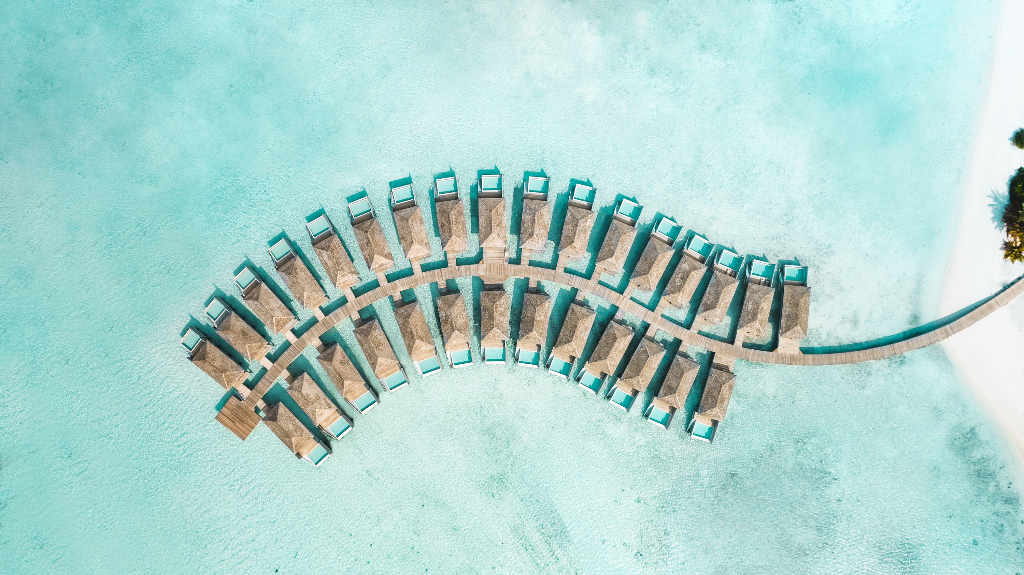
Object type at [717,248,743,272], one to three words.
swimming pool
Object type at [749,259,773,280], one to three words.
swimming pool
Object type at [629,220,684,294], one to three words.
house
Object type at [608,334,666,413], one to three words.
house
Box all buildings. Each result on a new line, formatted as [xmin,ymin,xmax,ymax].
[777,264,810,340]
[514,288,551,369]
[285,372,354,439]
[595,201,645,276]
[520,177,550,254]
[233,265,298,335]
[261,401,333,467]
[316,343,380,413]
[736,263,777,338]
[478,174,506,252]
[695,251,746,327]
[629,220,684,294]
[437,291,474,366]
[306,213,360,291]
[608,334,666,413]
[347,195,394,274]
[434,175,468,255]
[546,299,596,380]
[390,183,431,263]
[577,317,634,397]
[659,237,717,311]
[353,319,410,390]
[480,275,508,365]
[644,350,700,431]
[270,236,328,311]
[558,186,597,262]
[205,295,272,362]
[180,326,249,391]
[687,363,737,445]
[394,301,443,375]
